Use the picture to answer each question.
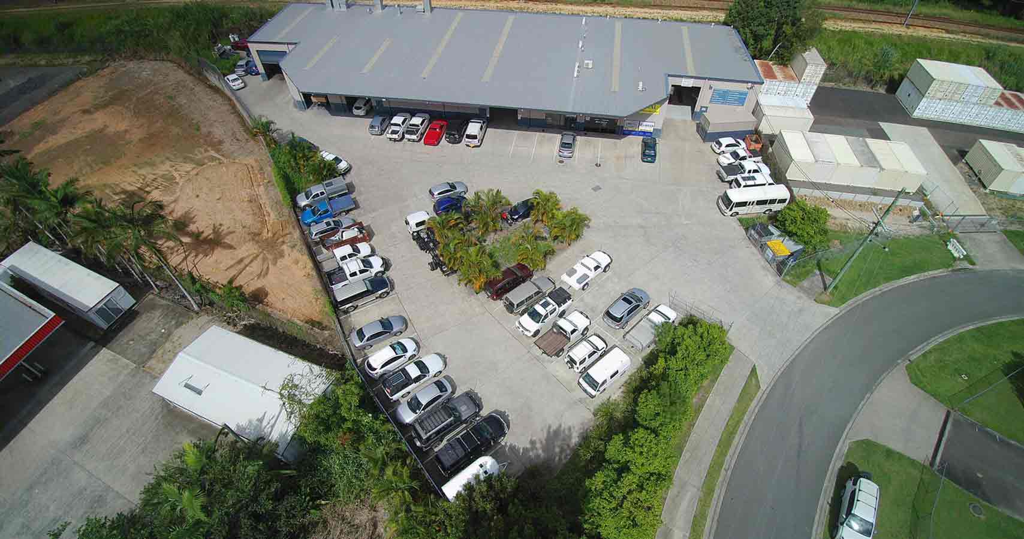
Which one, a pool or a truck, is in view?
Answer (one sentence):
The image shows a truck.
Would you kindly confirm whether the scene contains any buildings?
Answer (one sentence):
Yes, you can see a building in this photo.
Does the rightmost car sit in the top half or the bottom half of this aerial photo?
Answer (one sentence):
Seen from above, the rightmost car lies in the bottom half of the view.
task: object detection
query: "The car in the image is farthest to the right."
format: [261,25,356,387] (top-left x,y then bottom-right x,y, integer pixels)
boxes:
[838,476,893,539]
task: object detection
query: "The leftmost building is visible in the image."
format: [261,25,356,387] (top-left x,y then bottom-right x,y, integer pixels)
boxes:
[0,237,137,332]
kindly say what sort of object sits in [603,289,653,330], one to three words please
car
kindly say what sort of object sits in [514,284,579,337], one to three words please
truck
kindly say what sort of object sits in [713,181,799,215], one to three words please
vehicle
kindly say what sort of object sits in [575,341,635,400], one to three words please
van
